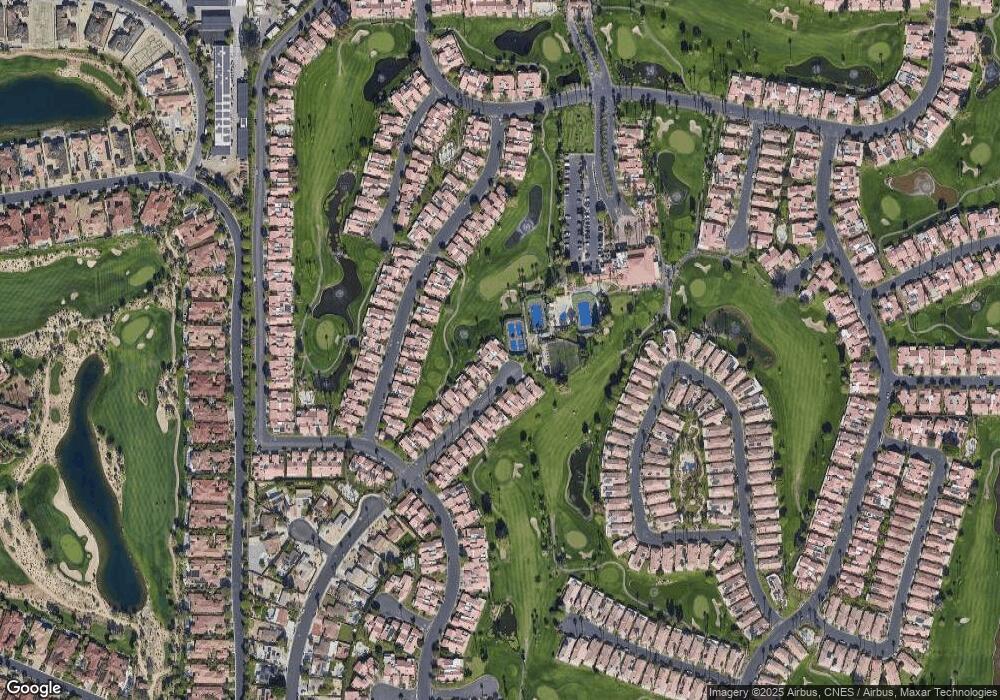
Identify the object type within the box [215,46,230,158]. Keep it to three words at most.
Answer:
building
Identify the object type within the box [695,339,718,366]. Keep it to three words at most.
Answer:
house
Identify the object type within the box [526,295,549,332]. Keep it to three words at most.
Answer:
tennis court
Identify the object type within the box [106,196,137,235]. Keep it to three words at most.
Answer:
house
